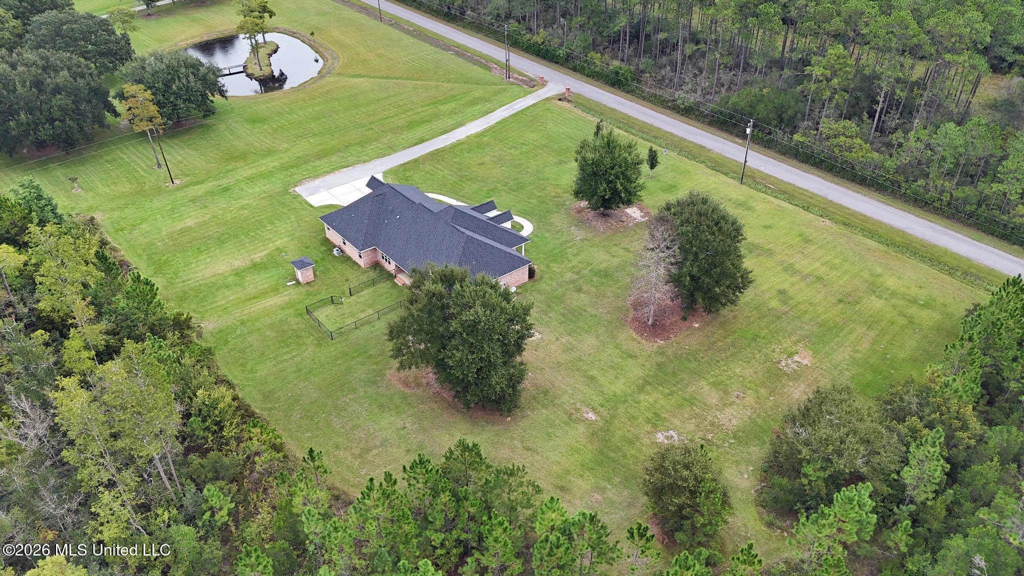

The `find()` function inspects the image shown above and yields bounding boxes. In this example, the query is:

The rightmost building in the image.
[318,175,533,299]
